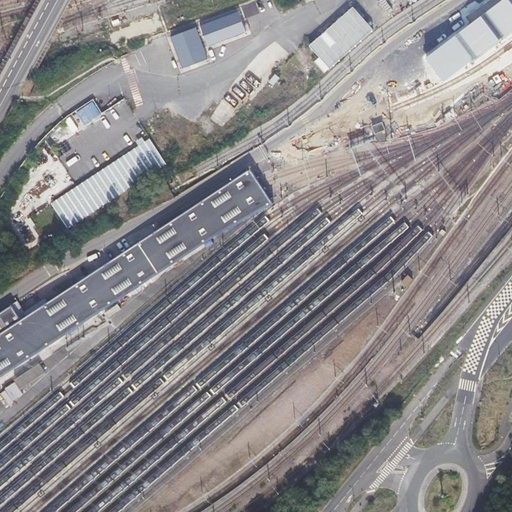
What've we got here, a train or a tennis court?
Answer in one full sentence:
Of the two, only a train appears.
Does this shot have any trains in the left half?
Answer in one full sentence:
Yes, you'll find a train in the left half.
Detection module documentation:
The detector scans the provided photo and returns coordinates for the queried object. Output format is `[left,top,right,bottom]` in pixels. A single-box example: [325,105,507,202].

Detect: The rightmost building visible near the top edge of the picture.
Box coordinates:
[426,0,512,80]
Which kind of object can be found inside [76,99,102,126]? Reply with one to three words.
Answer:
building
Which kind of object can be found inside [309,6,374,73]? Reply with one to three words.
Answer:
building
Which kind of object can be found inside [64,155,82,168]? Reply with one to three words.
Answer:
vehicle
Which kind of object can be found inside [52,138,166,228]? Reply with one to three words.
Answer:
shed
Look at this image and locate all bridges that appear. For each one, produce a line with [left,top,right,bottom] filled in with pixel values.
[0,0,70,128]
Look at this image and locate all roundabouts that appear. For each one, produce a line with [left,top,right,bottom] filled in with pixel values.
[332,385,496,512]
